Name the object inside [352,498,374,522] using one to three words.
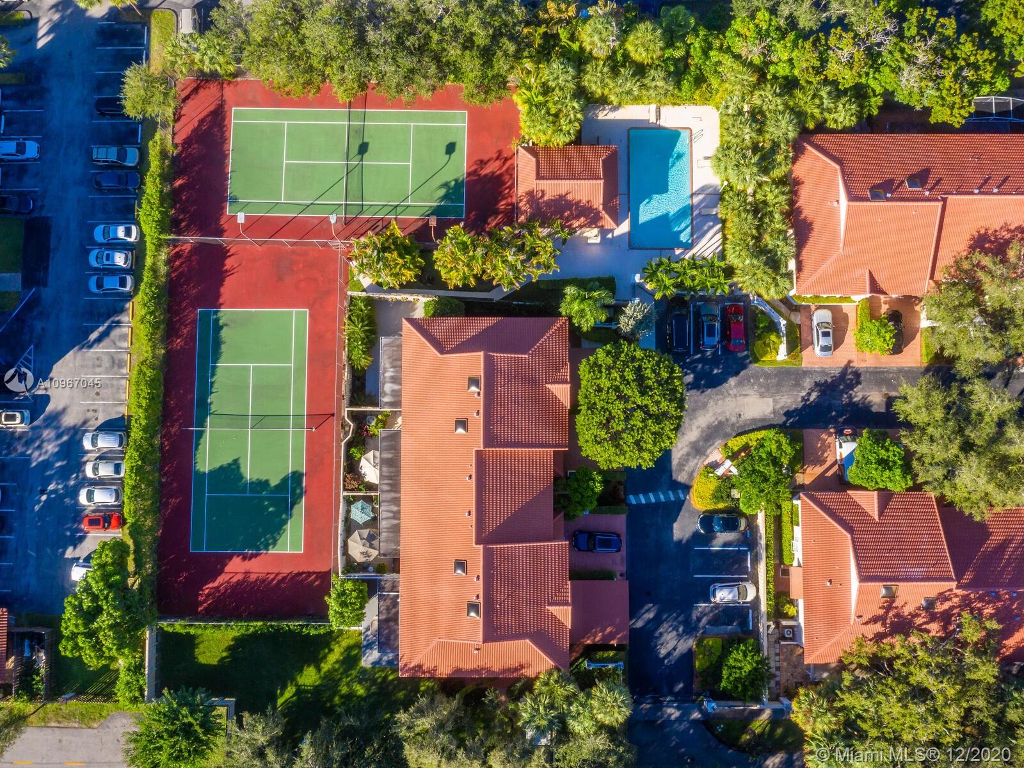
umbrella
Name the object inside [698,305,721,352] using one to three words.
car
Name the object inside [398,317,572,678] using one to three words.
house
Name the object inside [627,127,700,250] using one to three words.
swimming pool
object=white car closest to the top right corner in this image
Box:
[810,310,834,357]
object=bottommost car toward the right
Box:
[709,581,756,604]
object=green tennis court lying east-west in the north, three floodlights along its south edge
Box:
[173,78,517,246]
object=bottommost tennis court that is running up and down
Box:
[157,246,345,619]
